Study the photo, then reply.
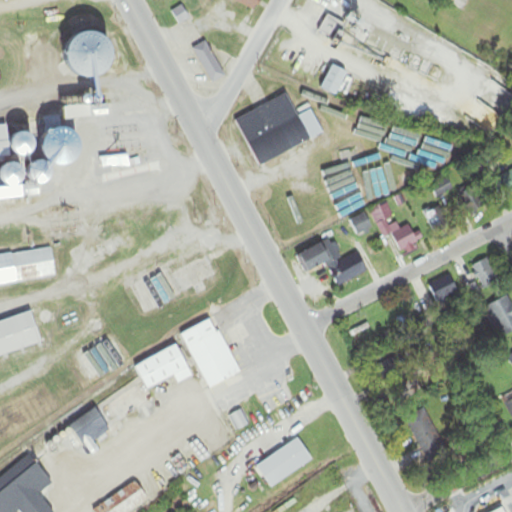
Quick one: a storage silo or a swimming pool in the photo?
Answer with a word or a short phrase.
storage silo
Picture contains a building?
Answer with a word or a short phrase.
Yes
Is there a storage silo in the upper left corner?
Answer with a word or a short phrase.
Yes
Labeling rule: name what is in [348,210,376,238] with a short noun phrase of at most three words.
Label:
house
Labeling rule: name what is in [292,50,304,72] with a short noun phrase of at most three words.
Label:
vehicle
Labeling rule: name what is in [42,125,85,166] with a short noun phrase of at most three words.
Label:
silo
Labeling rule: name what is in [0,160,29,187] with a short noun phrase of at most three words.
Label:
silo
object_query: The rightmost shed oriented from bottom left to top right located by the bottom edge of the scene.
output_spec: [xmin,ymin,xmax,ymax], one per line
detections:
[254,436,314,488]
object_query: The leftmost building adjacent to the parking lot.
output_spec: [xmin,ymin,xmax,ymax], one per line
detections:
[134,342,192,389]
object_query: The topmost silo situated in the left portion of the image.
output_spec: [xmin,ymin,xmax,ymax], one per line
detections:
[68,30,117,79]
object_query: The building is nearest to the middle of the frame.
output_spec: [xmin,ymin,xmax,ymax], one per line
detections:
[293,237,343,270]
